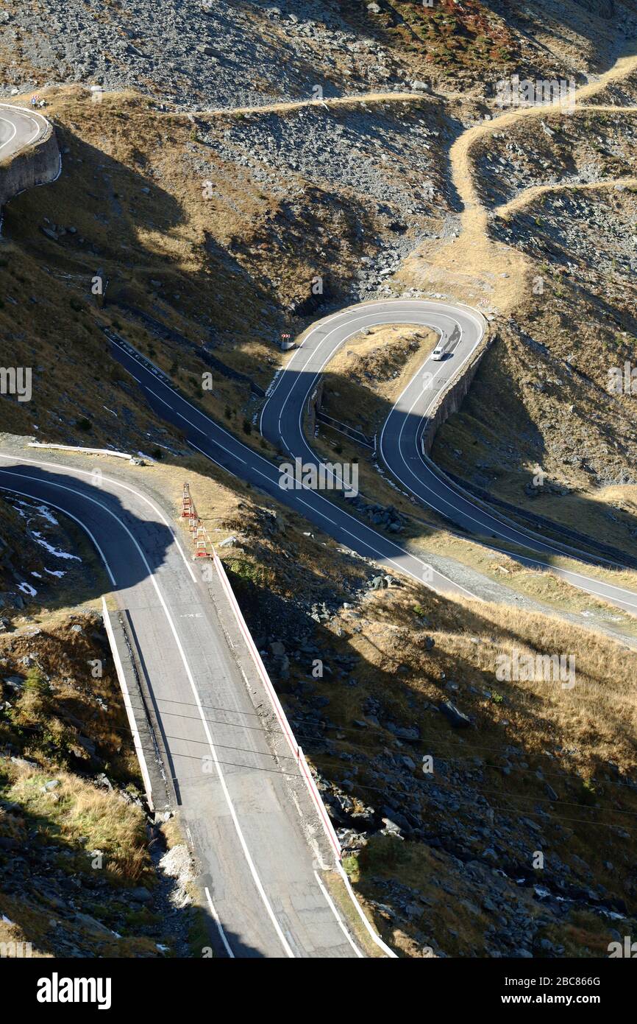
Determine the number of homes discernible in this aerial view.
zero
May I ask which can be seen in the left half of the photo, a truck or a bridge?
bridge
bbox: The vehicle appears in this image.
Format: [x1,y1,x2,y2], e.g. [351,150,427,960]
[429,348,446,363]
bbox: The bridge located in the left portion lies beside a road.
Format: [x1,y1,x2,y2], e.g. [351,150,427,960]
[98,577,340,844]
